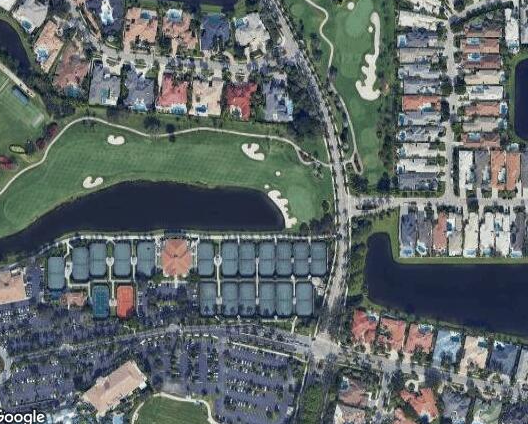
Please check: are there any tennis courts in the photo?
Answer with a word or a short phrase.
Yes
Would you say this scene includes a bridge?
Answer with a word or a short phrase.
No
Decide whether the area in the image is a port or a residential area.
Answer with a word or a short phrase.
residential area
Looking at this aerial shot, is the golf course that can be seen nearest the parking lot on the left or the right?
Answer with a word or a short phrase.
left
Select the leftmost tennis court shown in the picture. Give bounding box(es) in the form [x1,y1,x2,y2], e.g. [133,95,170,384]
[47,255,65,290]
